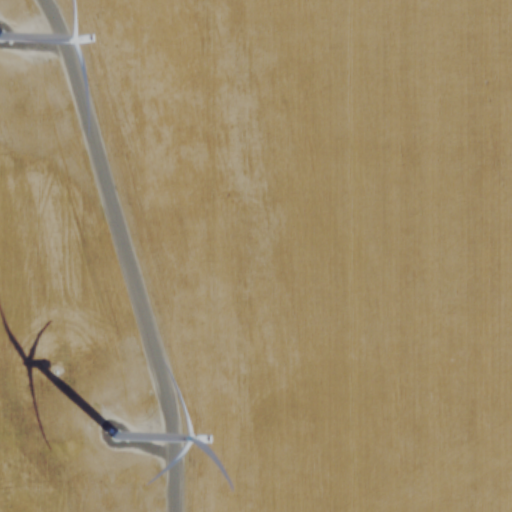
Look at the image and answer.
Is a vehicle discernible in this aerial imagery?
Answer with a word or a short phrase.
No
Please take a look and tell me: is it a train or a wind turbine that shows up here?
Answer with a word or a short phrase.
wind turbine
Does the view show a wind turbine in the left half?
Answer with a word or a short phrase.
Yes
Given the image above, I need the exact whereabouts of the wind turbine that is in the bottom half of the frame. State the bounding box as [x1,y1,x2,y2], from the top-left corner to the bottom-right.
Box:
[108,358,233,489]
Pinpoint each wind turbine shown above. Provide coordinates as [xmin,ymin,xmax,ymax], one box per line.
[0,0,96,118]
[108,358,233,489]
